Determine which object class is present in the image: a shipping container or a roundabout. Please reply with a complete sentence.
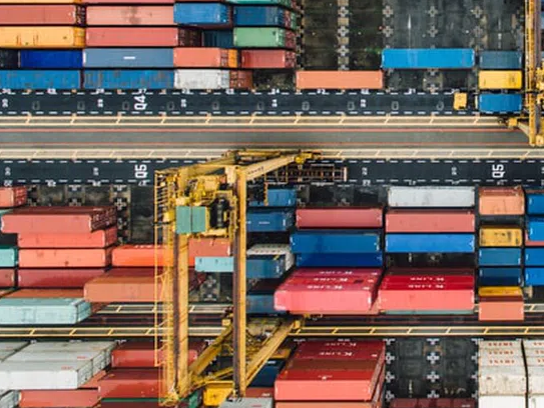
I can see a shipping container in this picture.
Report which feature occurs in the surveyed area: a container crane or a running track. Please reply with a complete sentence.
Visible in the photo is a container crane.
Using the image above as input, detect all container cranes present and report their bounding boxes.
[500,0,544,147]
[155,152,328,401]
